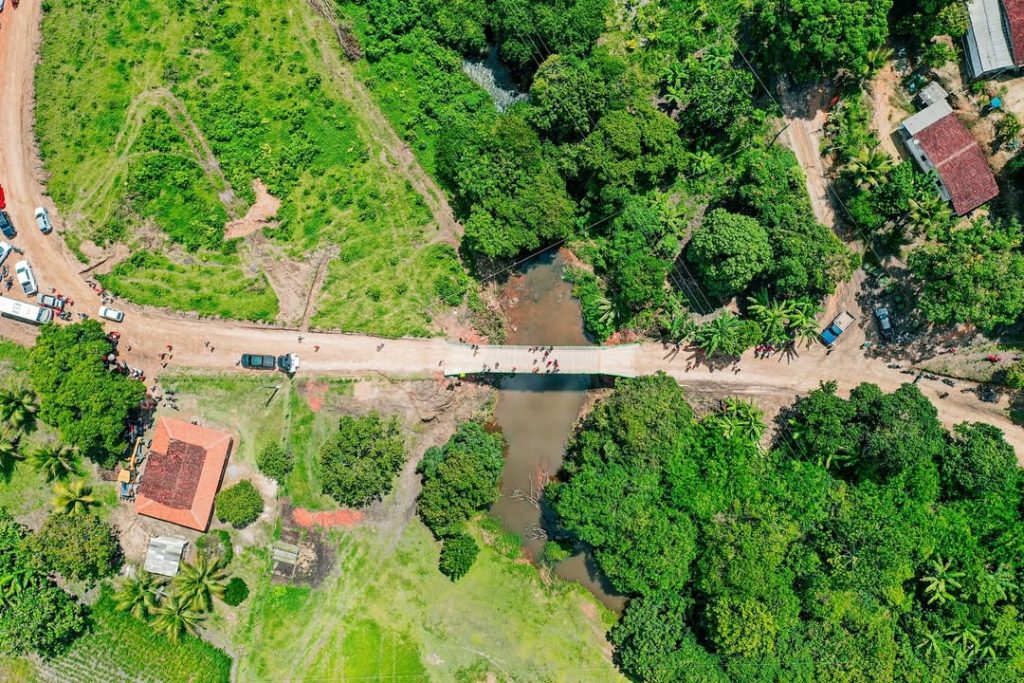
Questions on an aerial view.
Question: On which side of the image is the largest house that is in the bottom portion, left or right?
left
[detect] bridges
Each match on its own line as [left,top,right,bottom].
[445,340,640,379]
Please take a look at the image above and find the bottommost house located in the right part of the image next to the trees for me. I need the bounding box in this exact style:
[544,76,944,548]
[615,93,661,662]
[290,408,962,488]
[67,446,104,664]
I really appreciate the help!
[896,100,999,215]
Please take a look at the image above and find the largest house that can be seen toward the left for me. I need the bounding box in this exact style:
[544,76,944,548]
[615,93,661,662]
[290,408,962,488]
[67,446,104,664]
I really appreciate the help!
[136,416,235,532]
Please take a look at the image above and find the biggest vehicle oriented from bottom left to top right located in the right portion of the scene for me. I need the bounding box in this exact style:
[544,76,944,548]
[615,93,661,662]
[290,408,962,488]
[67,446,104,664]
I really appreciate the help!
[822,311,855,344]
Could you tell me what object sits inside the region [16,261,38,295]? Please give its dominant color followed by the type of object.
white truck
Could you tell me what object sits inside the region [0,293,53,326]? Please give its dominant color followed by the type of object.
white bus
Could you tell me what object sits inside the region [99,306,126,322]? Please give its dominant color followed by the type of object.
white car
